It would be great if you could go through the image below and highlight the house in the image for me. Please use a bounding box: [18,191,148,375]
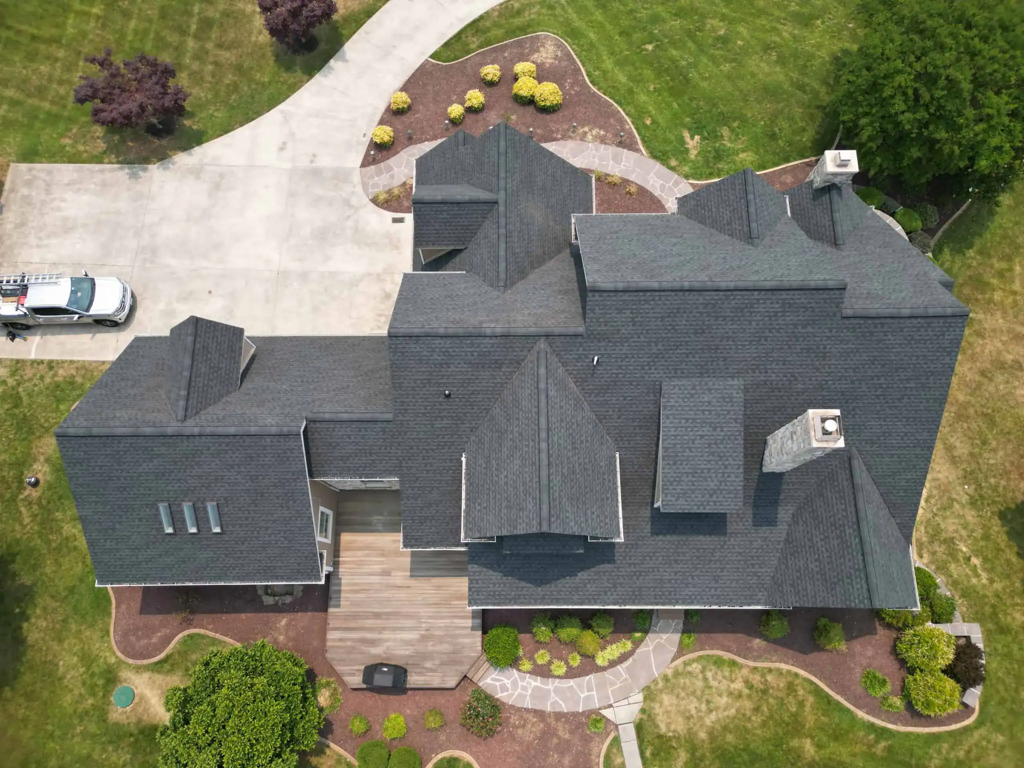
[52,118,972,610]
